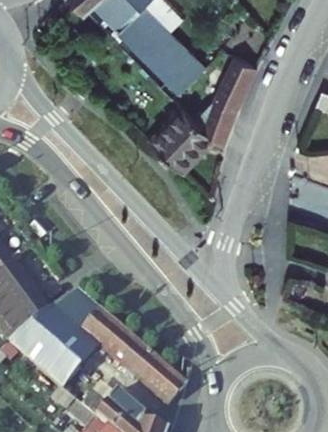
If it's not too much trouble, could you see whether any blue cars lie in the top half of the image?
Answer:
No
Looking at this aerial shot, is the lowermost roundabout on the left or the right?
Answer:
right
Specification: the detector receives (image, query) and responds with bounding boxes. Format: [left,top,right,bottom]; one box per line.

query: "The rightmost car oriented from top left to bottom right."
[69,178,88,199]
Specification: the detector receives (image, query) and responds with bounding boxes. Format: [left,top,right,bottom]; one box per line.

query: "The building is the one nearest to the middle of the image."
[149,118,210,178]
